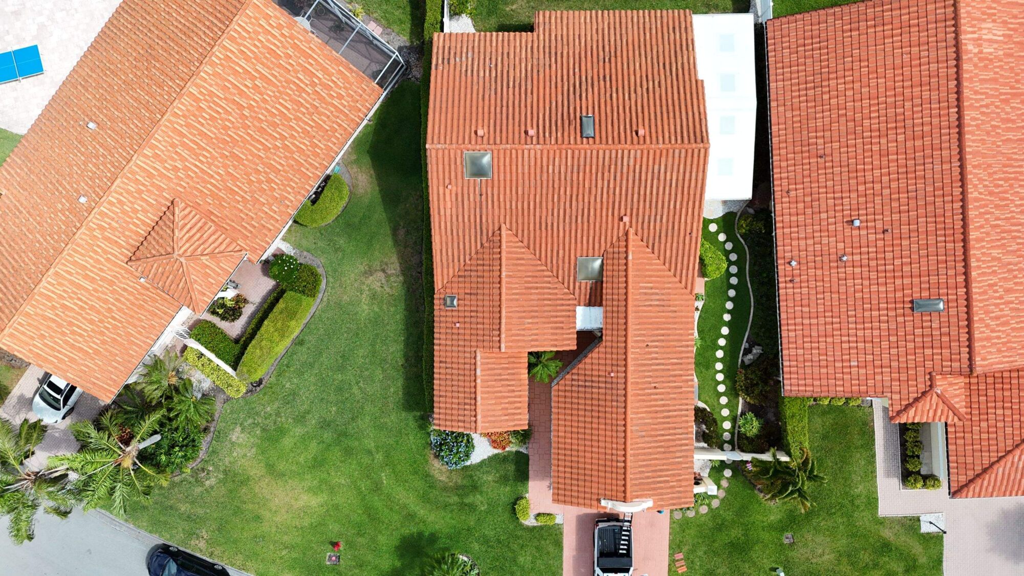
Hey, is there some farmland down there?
No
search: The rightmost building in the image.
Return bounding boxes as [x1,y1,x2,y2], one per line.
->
[759,0,1024,501]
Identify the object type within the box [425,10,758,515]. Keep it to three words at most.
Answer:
house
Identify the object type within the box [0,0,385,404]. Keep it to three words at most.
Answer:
house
